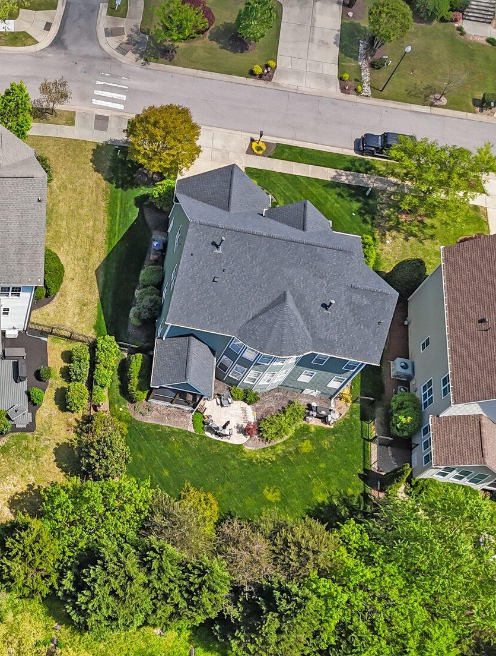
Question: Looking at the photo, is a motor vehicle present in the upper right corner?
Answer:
Yes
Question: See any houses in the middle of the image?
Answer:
Yes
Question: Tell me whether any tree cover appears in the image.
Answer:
Yes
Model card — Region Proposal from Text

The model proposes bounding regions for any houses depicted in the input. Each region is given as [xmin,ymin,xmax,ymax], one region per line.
[0,122,45,355]
[146,162,396,410]
[407,234,496,496]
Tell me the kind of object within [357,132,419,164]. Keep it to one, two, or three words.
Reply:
car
